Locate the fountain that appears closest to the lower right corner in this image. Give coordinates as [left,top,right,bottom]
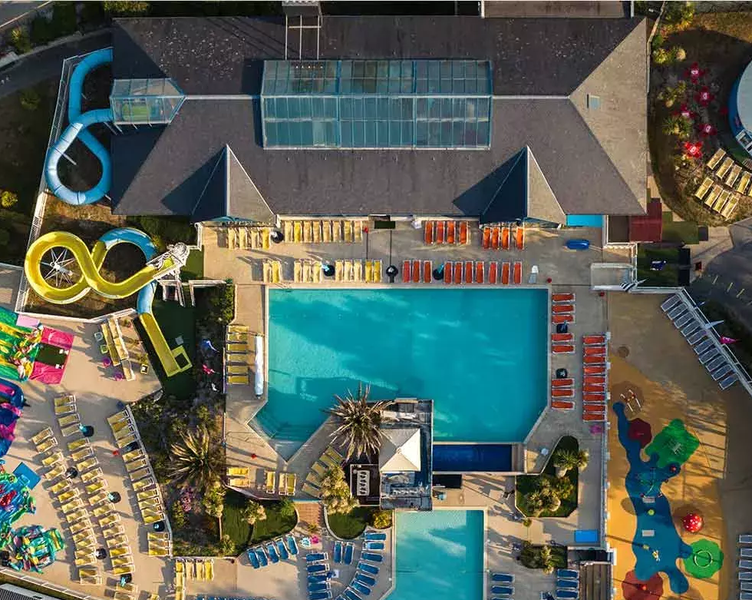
[680,511,702,532]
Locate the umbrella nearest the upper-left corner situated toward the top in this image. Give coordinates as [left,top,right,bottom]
[270,227,283,242]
